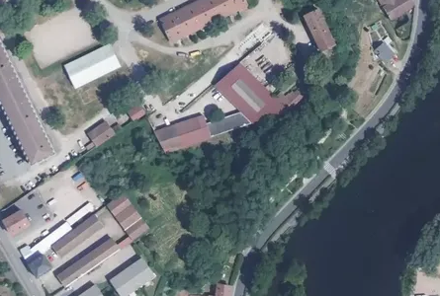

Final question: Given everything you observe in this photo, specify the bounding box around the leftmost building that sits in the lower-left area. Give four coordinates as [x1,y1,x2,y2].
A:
[0,209,30,237]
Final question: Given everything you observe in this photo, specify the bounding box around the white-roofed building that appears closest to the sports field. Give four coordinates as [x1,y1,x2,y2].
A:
[63,42,120,89]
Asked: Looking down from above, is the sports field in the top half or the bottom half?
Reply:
top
